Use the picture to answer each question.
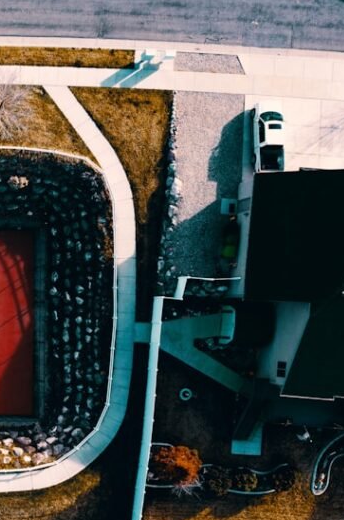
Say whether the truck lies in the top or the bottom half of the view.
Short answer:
top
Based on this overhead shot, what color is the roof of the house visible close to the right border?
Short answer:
black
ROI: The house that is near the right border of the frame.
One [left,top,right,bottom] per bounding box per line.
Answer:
[228,161,344,406]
